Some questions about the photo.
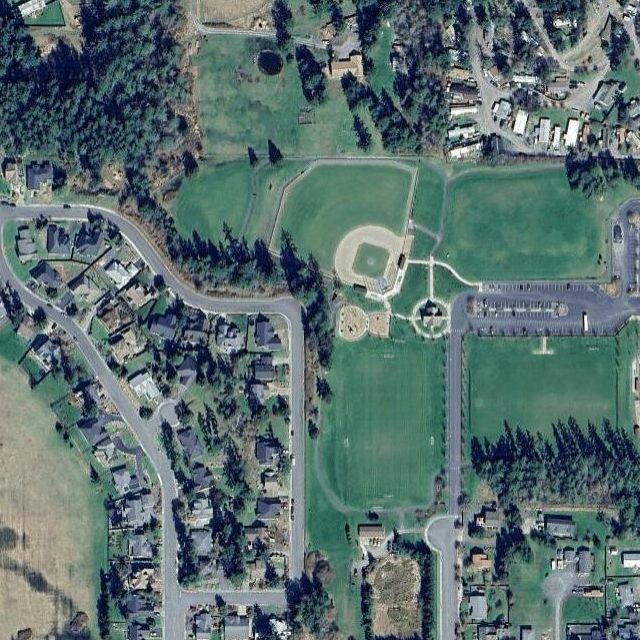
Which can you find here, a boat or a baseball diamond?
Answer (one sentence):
Of the two, only a baseball diamond appears.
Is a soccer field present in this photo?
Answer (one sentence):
Yes, you can see a soccer field in this photo.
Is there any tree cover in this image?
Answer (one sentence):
Yes, there's tree cover in this view.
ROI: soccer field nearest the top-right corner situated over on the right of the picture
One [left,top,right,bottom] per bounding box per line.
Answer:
[443,171,600,279]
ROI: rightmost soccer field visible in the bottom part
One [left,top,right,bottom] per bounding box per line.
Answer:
[470,340,616,433]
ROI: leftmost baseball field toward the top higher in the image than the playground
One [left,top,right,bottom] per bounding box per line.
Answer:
[265,158,419,295]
